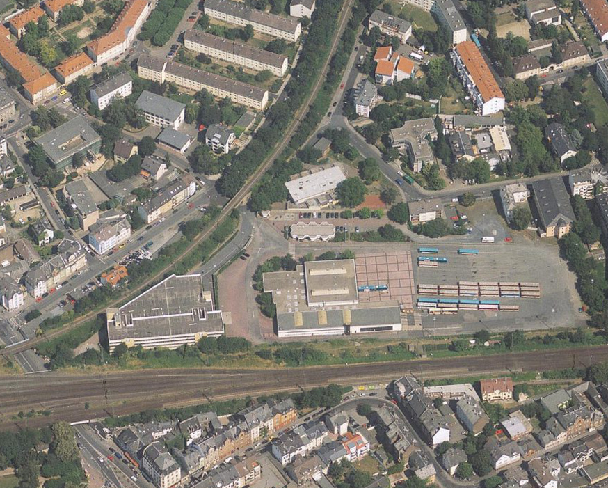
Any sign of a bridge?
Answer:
Yes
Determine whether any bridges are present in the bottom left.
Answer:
Yes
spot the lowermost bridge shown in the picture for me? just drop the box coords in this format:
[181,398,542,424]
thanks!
[21,371,101,424]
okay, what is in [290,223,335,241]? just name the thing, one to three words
building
